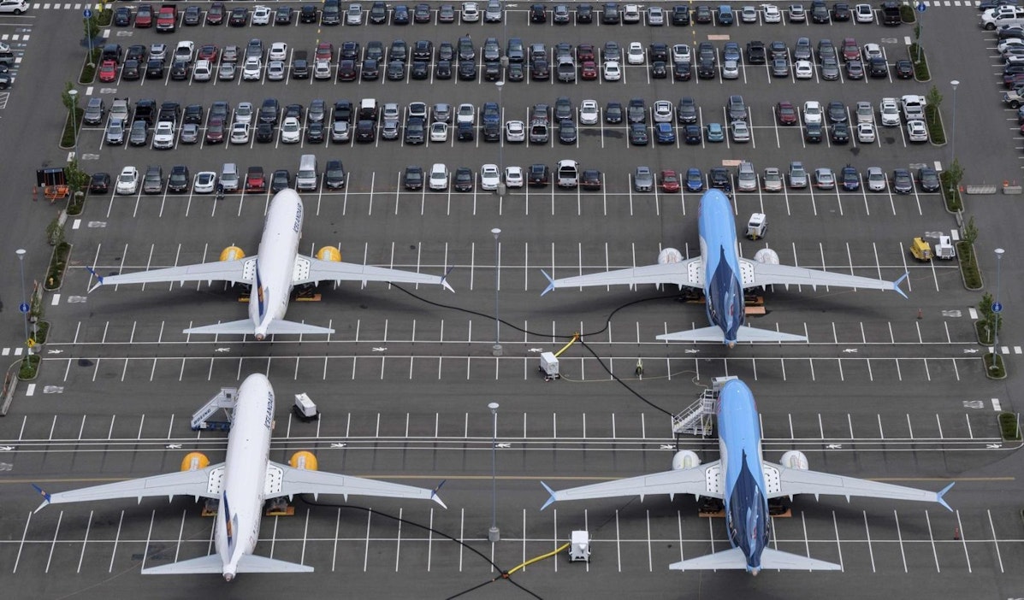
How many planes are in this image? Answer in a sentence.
In total, 4 planes can be seen.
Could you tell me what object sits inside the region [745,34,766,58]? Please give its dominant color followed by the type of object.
black vehicle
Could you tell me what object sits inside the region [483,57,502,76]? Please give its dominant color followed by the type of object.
black car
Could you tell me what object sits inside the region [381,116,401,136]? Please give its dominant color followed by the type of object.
gray car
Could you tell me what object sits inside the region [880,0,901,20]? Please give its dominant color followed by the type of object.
black vehicle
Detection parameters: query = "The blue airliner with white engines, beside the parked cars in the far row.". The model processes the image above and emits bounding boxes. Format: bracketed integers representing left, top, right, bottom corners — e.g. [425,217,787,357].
[539,190,910,349]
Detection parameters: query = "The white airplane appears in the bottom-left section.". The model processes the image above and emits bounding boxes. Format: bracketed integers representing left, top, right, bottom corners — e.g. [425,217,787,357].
[32,373,448,585]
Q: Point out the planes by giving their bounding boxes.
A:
[539,379,956,580]
[32,373,448,585]
[539,190,910,349]
[87,188,455,344]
